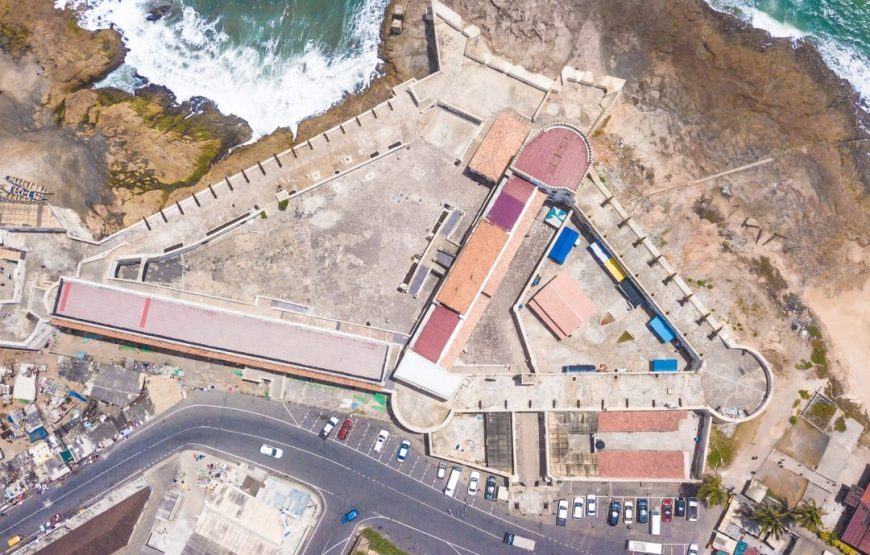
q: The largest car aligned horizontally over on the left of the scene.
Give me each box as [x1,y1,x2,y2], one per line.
[260,445,284,458]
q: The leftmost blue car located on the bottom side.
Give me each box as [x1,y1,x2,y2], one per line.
[341,507,359,525]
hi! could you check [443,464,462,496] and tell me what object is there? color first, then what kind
white vehicle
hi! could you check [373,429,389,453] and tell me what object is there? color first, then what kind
white car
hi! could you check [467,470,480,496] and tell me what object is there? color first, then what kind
white vehicle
